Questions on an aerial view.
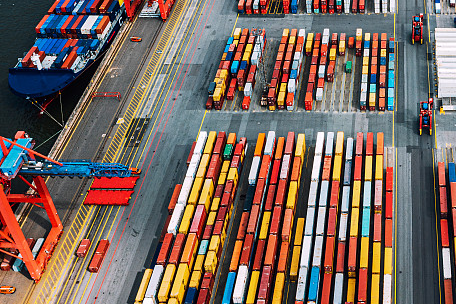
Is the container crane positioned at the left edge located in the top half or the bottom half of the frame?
bottom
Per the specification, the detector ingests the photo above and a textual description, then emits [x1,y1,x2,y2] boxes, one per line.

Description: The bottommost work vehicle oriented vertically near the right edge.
[419,95,435,134]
